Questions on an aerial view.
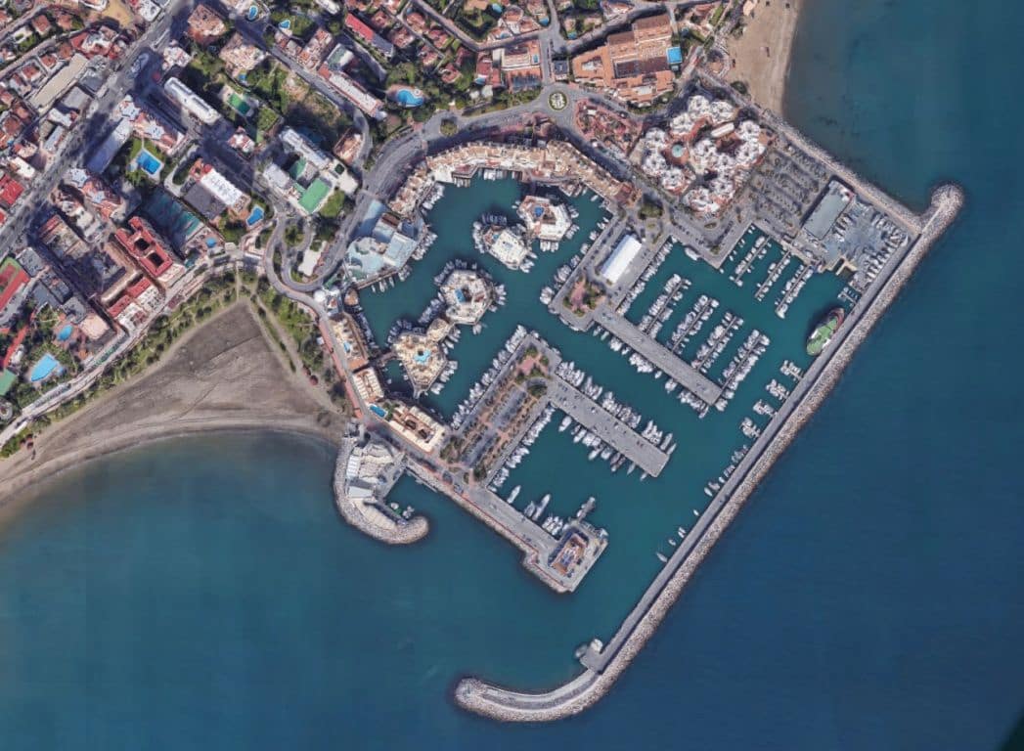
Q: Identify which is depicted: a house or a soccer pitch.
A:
house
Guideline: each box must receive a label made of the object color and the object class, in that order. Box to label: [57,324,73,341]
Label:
blue swimming pool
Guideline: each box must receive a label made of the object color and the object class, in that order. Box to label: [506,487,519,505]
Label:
white boat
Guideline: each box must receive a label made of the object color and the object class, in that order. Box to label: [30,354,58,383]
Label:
blue swimming pool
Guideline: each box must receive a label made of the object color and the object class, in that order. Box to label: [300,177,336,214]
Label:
green sports court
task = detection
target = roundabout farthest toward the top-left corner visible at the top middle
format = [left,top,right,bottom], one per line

[434,112,464,142]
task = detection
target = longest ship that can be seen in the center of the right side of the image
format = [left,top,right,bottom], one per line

[810,310,844,354]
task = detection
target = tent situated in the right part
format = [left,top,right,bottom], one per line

[600,235,644,284]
